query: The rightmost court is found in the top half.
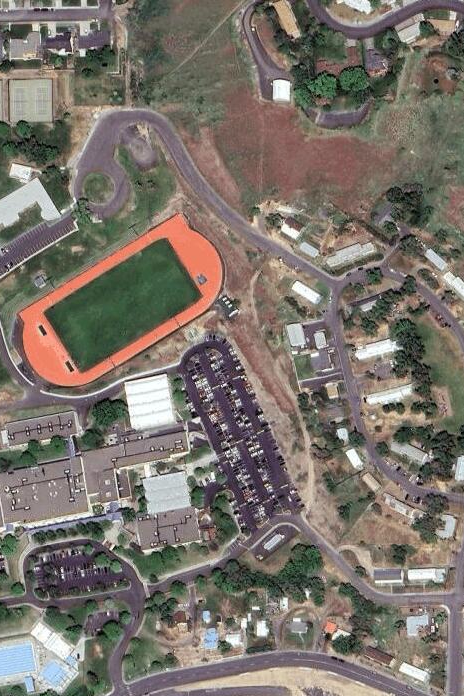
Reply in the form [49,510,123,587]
[9,78,52,122]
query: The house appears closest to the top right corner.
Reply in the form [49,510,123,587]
[433,18,457,34]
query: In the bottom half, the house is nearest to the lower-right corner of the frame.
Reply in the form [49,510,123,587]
[399,661,430,685]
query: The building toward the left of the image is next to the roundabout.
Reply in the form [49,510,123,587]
[0,178,61,229]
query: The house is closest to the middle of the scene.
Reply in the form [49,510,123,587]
[285,323,306,348]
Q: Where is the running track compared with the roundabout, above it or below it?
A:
below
